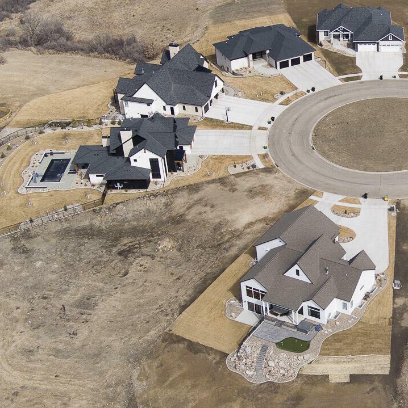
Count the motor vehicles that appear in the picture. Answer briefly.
0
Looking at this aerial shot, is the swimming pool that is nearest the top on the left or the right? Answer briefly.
left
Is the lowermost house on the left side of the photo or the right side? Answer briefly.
right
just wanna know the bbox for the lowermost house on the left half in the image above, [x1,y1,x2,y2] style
[68,109,199,192]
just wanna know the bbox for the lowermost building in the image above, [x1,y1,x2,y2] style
[239,202,385,336]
